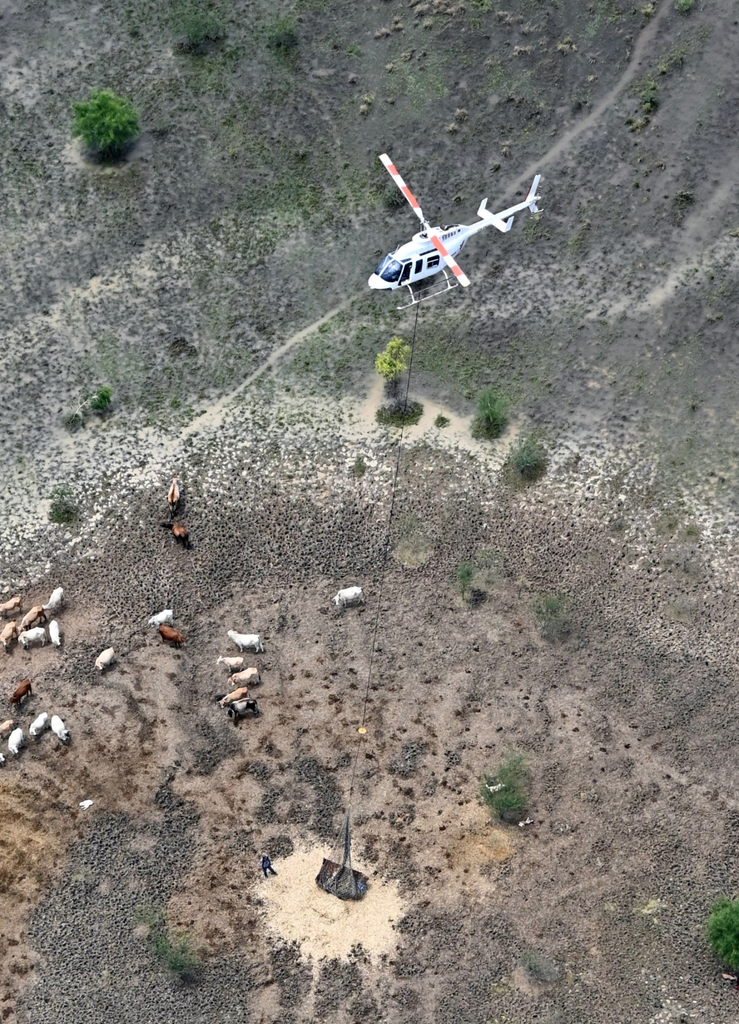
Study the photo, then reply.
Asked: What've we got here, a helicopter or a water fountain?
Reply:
helicopter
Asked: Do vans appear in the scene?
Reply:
No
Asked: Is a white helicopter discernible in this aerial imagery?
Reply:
Yes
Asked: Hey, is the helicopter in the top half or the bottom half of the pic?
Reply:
top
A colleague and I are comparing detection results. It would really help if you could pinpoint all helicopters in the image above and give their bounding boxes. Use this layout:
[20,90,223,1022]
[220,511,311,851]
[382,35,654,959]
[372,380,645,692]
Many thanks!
[366,154,543,309]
